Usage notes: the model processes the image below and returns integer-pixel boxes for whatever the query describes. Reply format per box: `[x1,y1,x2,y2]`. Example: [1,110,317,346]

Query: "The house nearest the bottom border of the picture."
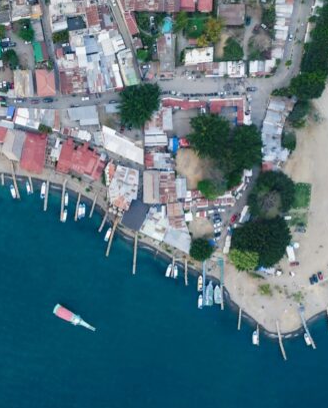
[162,229,191,253]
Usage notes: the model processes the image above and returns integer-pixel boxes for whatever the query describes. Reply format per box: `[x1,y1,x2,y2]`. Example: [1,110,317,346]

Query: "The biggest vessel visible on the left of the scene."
[53,305,96,331]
